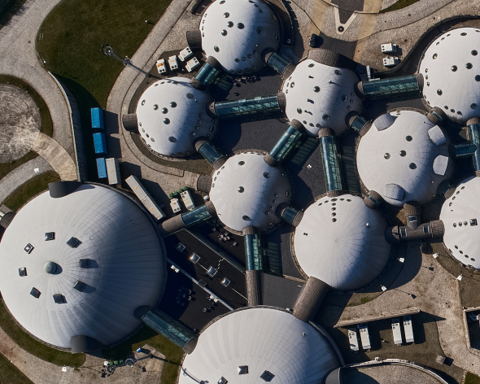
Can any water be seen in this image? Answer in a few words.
No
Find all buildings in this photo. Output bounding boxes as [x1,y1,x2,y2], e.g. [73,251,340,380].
[354,108,455,208]
[119,76,215,156]
[176,308,350,384]
[198,149,293,233]
[0,176,167,355]
[438,174,480,271]
[418,25,480,125]
[185,0,281,74]
[280,48,363,140]
[291,190,394,293]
